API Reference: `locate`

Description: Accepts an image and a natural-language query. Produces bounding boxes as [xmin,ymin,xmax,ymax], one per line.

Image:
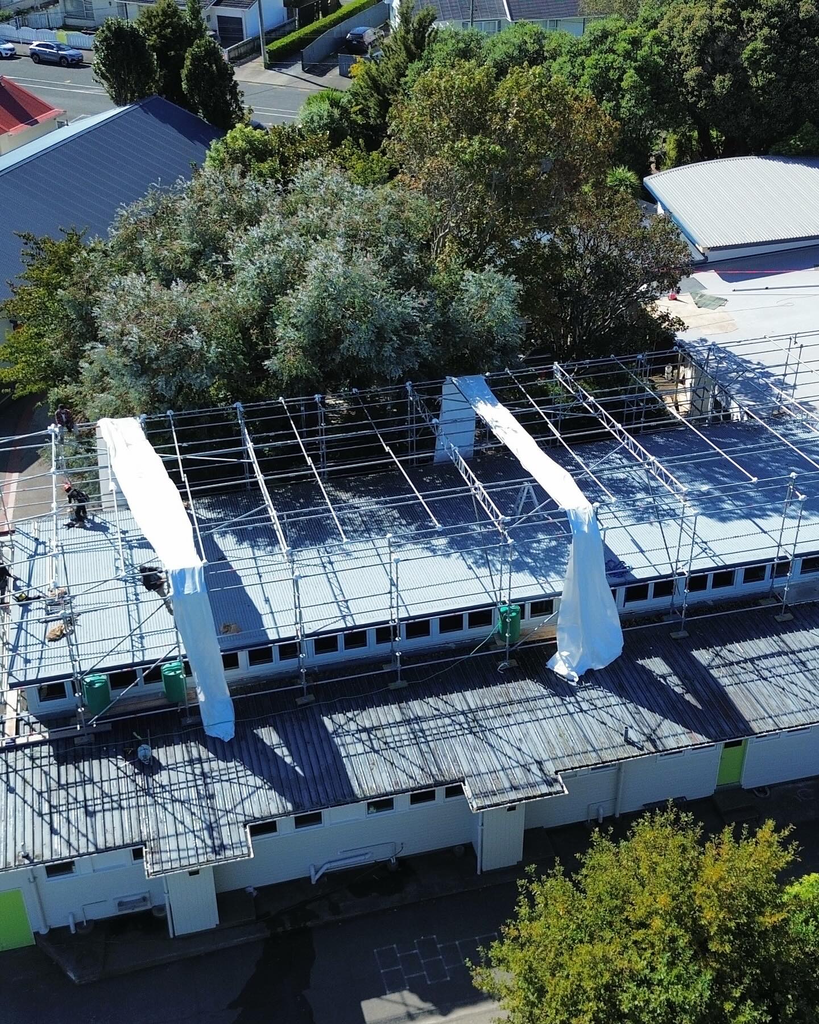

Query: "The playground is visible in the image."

[0,854,819,1024]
